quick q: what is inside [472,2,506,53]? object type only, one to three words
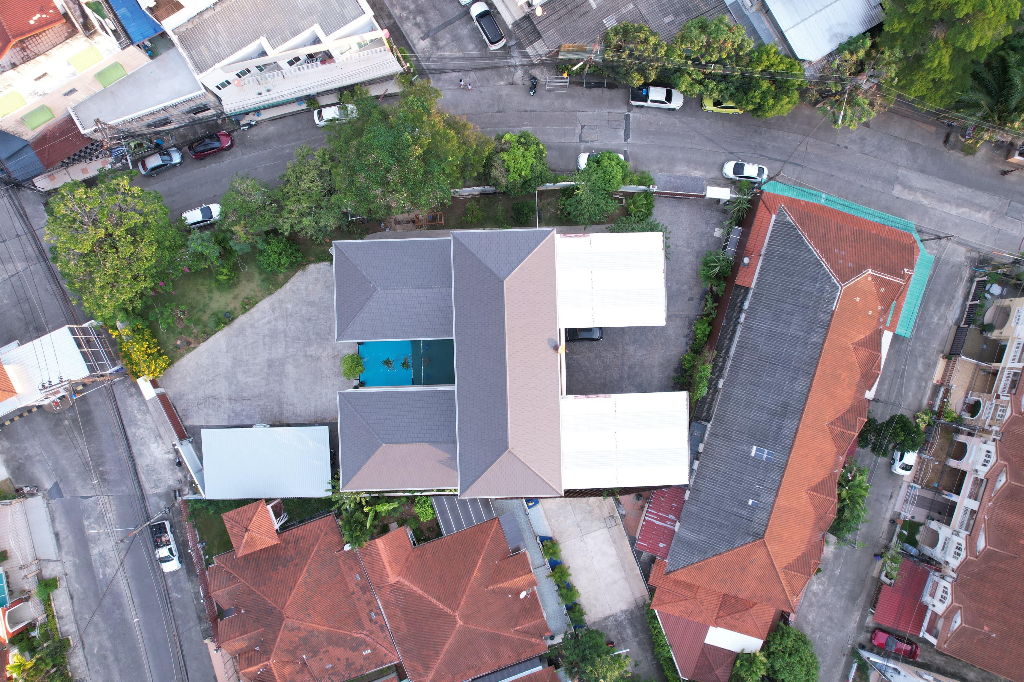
car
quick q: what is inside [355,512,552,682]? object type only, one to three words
house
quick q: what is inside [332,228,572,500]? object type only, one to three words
house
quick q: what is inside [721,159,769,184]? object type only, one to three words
car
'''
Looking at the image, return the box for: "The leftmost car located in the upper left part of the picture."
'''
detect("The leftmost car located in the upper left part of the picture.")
[135,146,186,176]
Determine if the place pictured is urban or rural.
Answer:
urban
